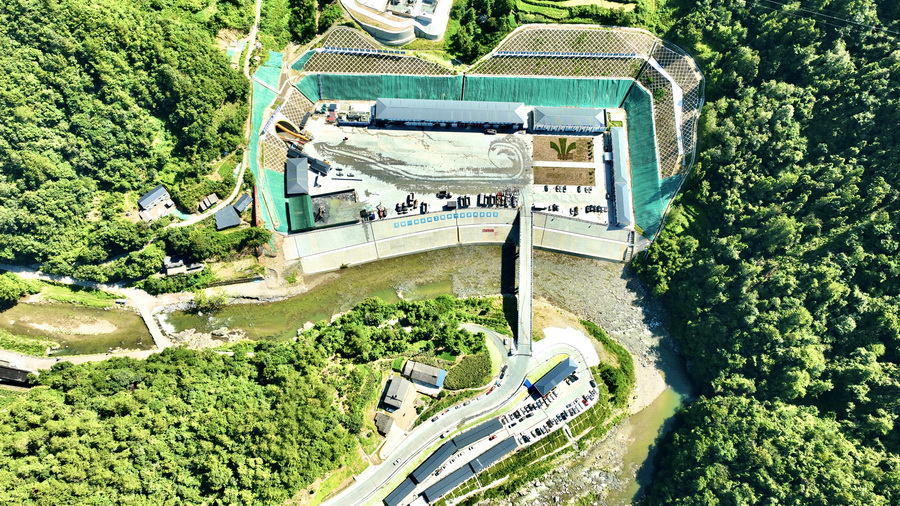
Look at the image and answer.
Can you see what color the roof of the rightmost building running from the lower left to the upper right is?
blue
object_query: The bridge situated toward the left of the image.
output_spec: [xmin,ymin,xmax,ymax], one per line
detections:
[134,297,171,351]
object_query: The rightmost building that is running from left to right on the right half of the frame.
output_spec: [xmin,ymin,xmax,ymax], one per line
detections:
[533,107,606,131]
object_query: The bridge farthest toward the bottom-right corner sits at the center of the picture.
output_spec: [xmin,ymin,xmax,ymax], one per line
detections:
[518,205,534,351]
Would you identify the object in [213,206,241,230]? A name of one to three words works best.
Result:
barn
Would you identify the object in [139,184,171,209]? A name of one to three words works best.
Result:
house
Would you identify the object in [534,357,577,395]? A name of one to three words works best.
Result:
building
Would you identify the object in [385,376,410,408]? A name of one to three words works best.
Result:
house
